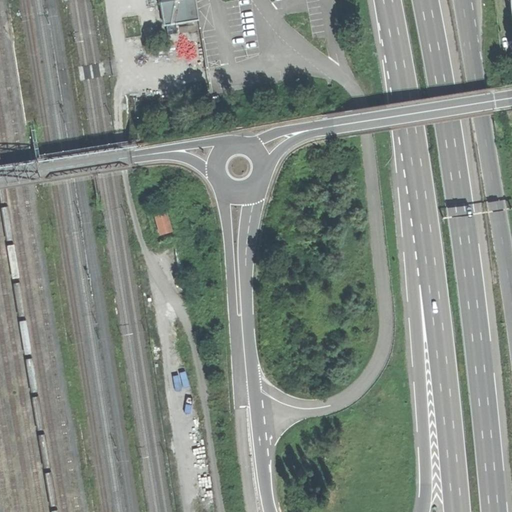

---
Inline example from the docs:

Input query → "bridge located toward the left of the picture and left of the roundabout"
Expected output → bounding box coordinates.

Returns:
[0,140,138,188]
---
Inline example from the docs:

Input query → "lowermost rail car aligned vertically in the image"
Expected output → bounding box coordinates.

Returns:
[45,471,57,509]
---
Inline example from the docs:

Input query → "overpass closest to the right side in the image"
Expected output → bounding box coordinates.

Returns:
[351,88,494,135]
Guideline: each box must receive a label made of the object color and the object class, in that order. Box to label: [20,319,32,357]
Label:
white rail car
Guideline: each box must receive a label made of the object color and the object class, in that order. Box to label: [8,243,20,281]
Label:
white rail car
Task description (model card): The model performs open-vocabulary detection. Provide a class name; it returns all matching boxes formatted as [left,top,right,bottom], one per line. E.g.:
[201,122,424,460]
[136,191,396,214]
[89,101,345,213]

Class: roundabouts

[206,134,278,206]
